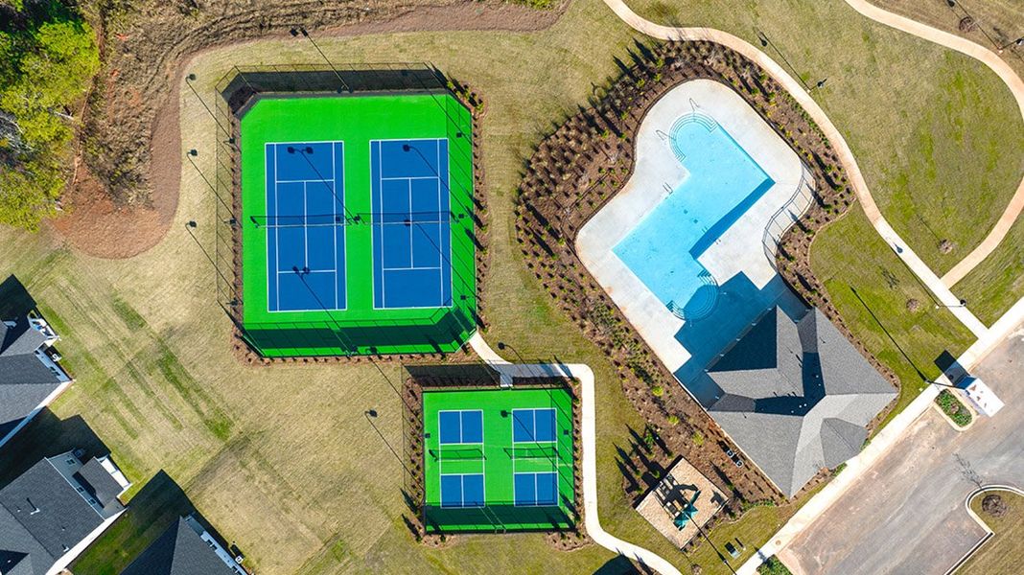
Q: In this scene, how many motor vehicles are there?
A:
1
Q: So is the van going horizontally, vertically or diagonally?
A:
diagonally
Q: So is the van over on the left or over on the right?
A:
right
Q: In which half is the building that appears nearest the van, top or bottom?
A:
bottom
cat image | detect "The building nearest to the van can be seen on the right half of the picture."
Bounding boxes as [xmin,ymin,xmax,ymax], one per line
[700,305,897,495]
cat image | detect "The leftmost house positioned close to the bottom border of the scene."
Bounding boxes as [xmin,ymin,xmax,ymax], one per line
[0,450,137,575]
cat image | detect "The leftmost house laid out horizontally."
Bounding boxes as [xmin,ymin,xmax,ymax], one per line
[121,512,253,575]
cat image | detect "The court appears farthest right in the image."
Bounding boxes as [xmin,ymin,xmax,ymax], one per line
[498,390,576,532]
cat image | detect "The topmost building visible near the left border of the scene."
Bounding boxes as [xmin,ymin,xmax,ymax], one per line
[0,304,71,452]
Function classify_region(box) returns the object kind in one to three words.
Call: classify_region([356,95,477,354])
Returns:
tennis court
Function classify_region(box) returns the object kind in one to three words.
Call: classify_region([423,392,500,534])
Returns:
sports court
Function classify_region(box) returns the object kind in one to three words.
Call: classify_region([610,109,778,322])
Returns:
swimming pool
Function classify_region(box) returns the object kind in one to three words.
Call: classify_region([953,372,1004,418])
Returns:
van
